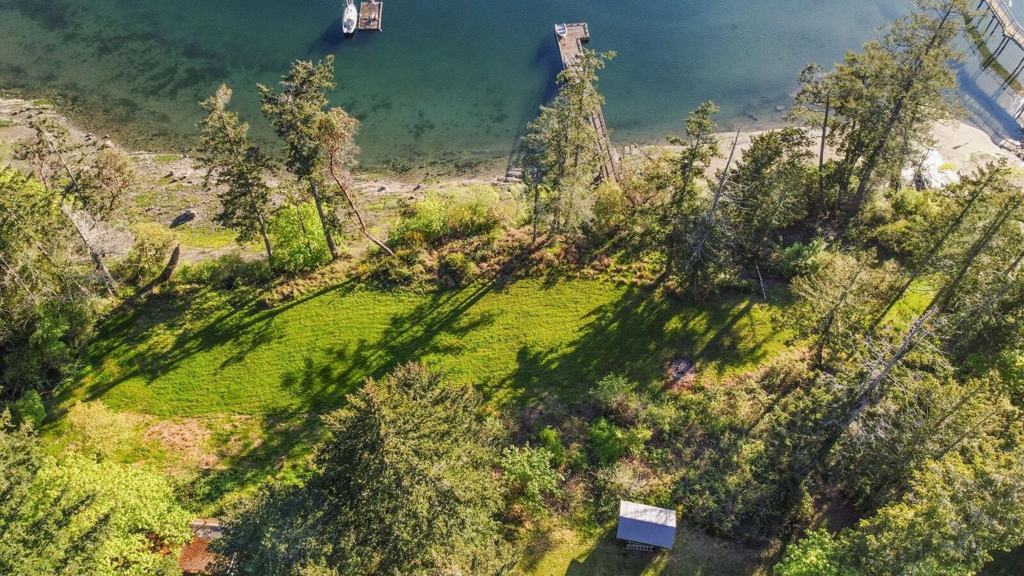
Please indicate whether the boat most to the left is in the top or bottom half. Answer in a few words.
top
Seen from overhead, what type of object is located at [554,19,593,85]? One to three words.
pier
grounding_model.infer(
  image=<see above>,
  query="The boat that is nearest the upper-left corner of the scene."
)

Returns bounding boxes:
[339,0,359,37]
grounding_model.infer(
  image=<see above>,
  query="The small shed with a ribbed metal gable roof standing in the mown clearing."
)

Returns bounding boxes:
[617,498,675,554]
